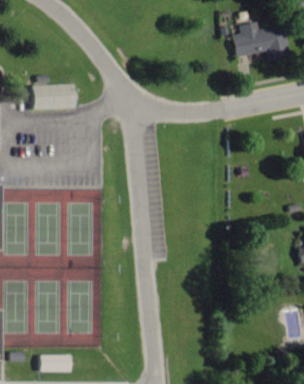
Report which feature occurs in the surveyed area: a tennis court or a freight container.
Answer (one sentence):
I can see a tennis court in this picture.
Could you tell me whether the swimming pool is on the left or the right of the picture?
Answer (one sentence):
The swimming pool is on the right side of the image.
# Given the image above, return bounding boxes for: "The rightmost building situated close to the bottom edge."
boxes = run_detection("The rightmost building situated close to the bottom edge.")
[40,354,74,374]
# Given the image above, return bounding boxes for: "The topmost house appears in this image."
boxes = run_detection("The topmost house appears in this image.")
[232,12,290,56]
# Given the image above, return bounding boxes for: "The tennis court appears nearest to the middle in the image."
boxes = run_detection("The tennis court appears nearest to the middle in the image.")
[68,203,93,256]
